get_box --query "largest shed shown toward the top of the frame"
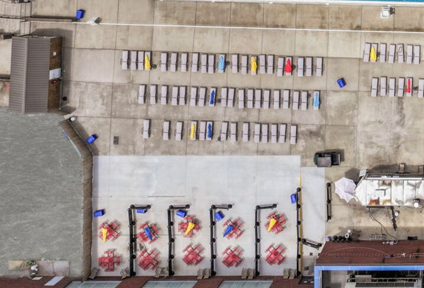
[10,36,64,113]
